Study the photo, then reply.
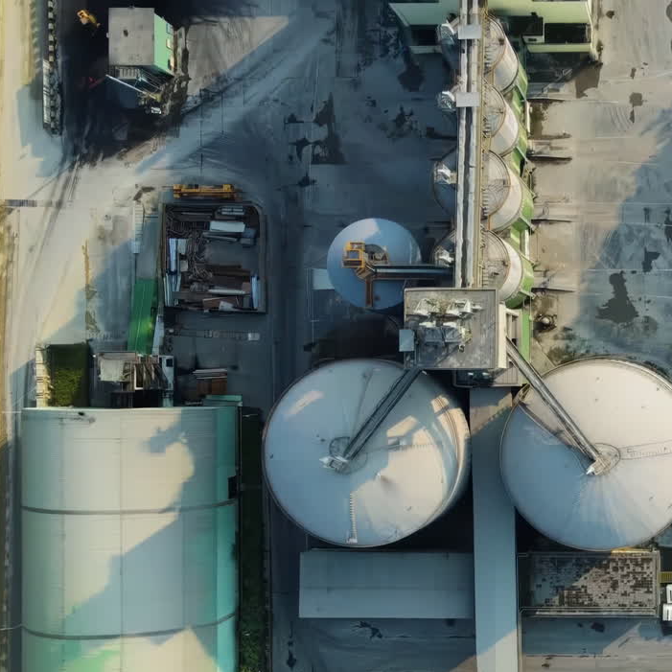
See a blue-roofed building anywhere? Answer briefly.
Yes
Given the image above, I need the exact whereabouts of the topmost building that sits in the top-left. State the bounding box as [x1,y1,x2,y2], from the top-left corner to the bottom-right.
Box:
[108,6,186,78]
